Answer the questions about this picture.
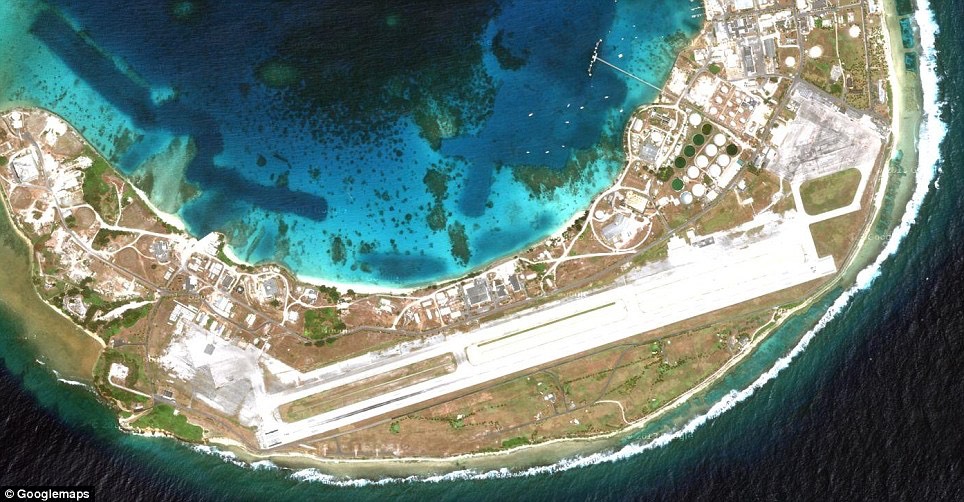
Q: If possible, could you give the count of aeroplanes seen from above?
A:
0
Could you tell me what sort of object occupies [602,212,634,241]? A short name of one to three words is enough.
building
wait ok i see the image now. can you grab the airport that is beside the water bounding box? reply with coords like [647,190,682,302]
[159,83,883,449]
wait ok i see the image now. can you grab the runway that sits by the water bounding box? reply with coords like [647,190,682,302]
[256,255,837,449]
